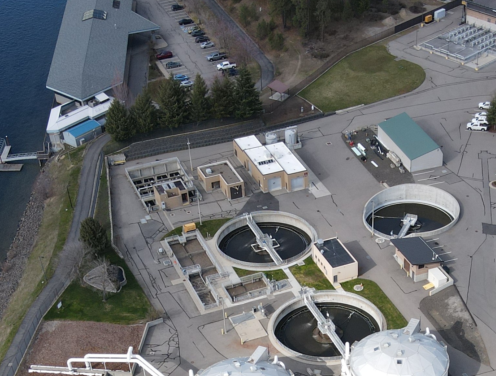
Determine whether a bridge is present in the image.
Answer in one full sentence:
Yes, this view includes a bridge.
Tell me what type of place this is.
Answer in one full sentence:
The picture captures an industrial area.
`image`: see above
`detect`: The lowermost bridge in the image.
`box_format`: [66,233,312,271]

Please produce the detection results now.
[303,289,350,356]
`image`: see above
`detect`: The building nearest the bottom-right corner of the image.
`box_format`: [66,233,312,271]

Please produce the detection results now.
[390,237,444,280]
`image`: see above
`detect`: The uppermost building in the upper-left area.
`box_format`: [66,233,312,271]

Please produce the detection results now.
[46,0,160,102]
